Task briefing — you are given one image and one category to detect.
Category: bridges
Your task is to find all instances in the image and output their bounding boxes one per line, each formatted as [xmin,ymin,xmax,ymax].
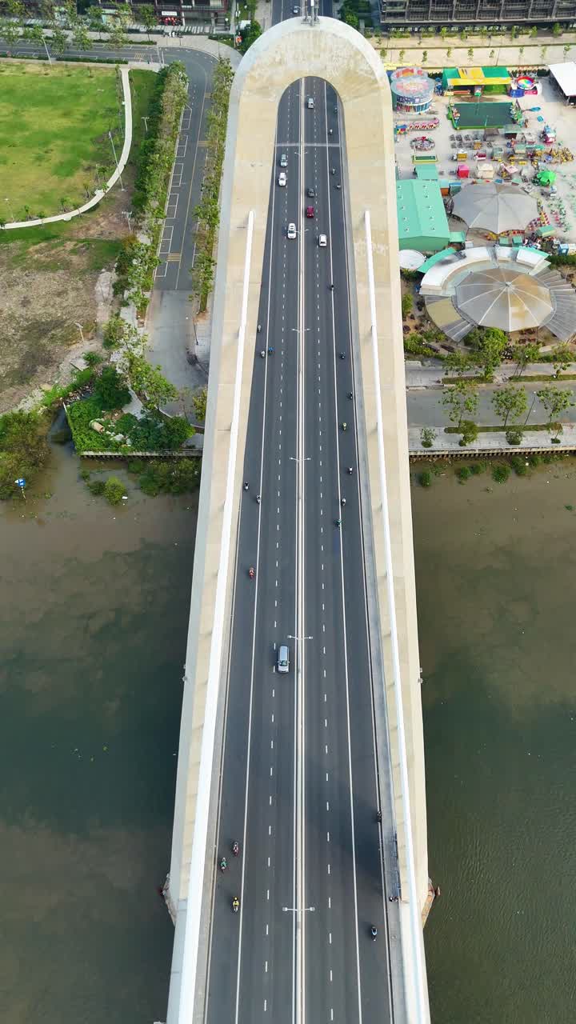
[157,0,443,1024]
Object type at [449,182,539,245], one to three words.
tent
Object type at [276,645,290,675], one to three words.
vehicle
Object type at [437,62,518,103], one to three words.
building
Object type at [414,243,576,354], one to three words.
building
